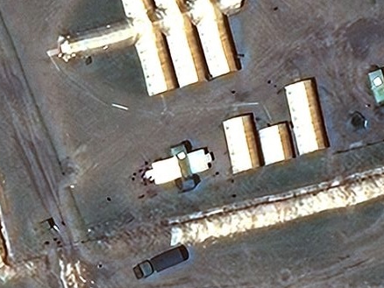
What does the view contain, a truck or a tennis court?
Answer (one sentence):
Of the two, only a truck appears.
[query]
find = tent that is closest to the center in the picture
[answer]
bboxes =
[223,118,262,174]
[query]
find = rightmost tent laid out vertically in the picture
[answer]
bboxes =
[285,83,327,155]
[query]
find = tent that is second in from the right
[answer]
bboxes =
[258,126,291,166]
